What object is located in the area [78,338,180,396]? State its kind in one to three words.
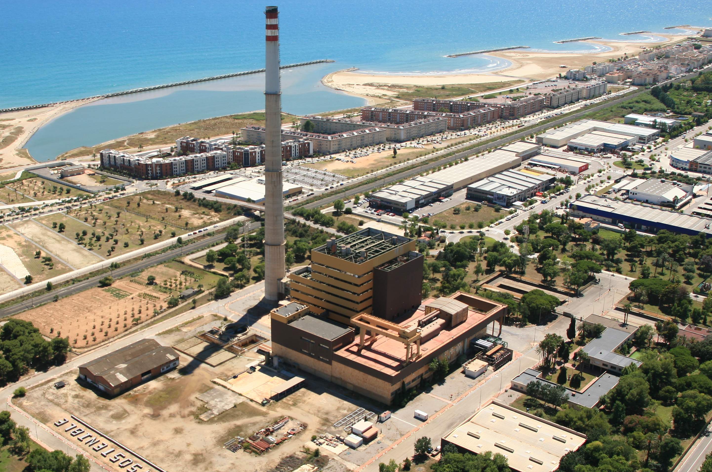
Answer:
shed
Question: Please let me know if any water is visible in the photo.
Yes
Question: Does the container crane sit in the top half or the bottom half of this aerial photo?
bottom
